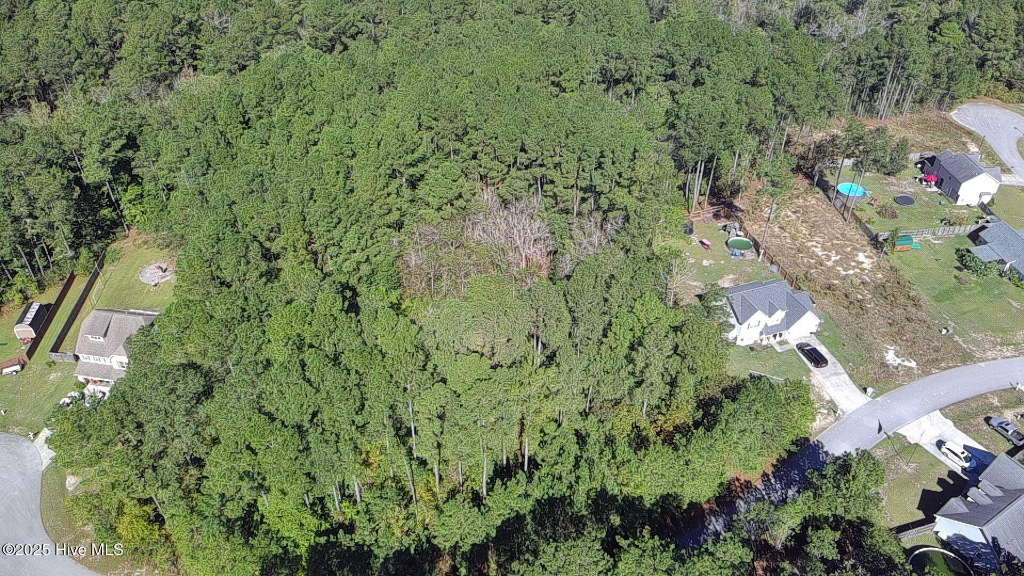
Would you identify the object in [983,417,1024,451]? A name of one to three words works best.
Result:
truck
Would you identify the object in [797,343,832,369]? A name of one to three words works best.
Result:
car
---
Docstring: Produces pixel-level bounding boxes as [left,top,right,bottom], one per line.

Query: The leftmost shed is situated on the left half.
[4,301,47,341]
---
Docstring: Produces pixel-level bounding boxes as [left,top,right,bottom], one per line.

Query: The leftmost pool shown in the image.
[726,237,753,254]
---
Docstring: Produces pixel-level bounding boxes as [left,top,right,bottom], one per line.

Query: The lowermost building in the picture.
[926,445,1024,576]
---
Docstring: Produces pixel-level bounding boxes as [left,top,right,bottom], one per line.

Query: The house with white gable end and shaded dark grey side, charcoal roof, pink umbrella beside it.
[926,148,1015,204]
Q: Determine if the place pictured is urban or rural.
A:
rural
